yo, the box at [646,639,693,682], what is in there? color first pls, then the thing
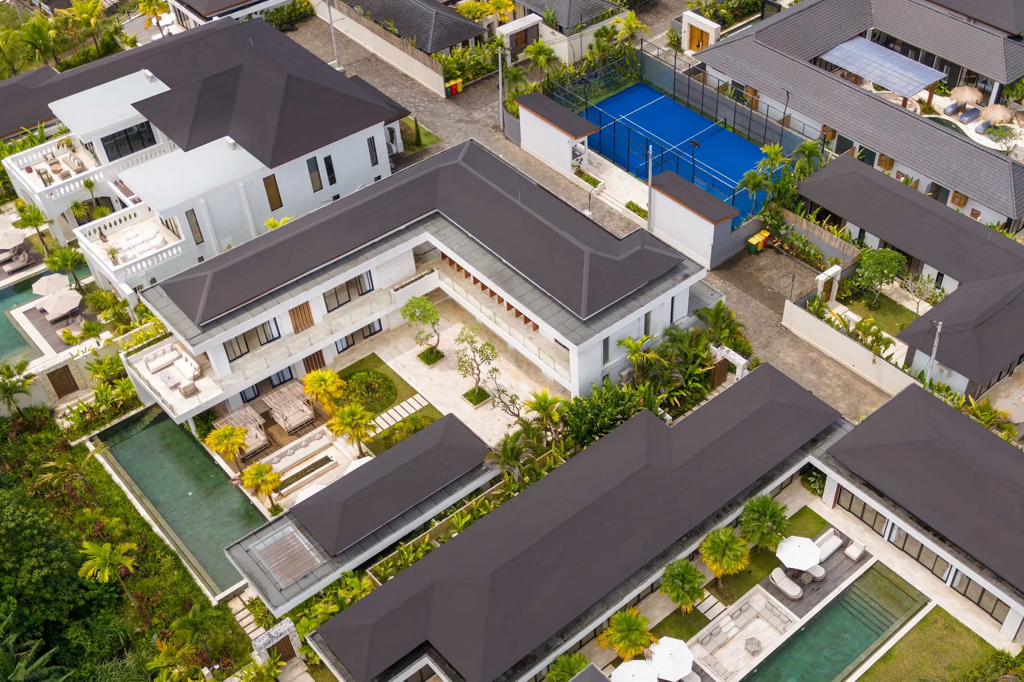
white umbrella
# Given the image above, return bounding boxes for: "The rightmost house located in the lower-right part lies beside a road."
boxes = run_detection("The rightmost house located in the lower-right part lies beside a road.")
[809,381,1024,640]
